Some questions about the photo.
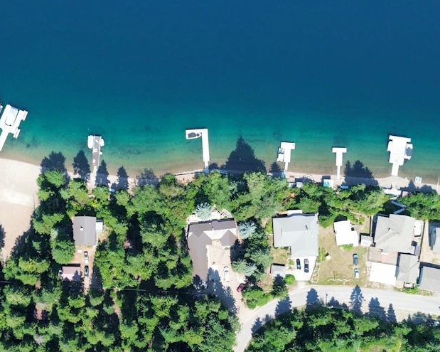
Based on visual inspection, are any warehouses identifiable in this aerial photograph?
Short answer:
No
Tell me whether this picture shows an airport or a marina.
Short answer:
marina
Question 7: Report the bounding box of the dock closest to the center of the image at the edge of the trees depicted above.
[186,129,209,174]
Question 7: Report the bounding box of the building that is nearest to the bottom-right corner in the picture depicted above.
[419,266,440,292]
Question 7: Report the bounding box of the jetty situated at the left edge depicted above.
[0,104,24,151]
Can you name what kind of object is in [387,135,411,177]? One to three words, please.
pier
